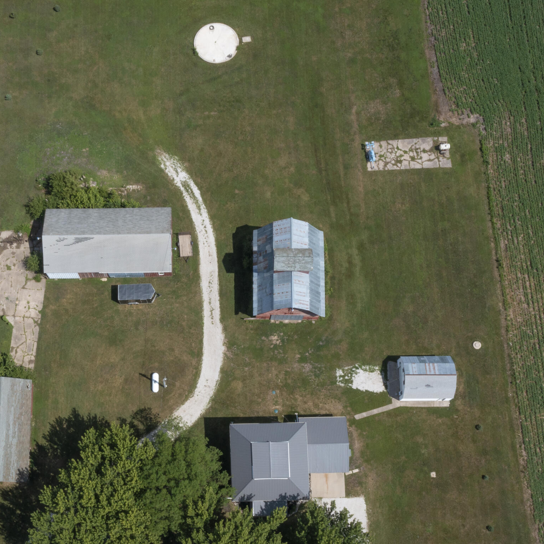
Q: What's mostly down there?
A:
grass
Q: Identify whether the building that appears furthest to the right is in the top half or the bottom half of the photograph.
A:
bottom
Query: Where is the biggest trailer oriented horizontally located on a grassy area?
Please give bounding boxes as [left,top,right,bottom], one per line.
[118,284,159,305]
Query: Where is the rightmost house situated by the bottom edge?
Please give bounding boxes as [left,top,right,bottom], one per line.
[229,408,349,517]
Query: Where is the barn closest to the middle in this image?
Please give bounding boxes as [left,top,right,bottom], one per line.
[253,217,326,321]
